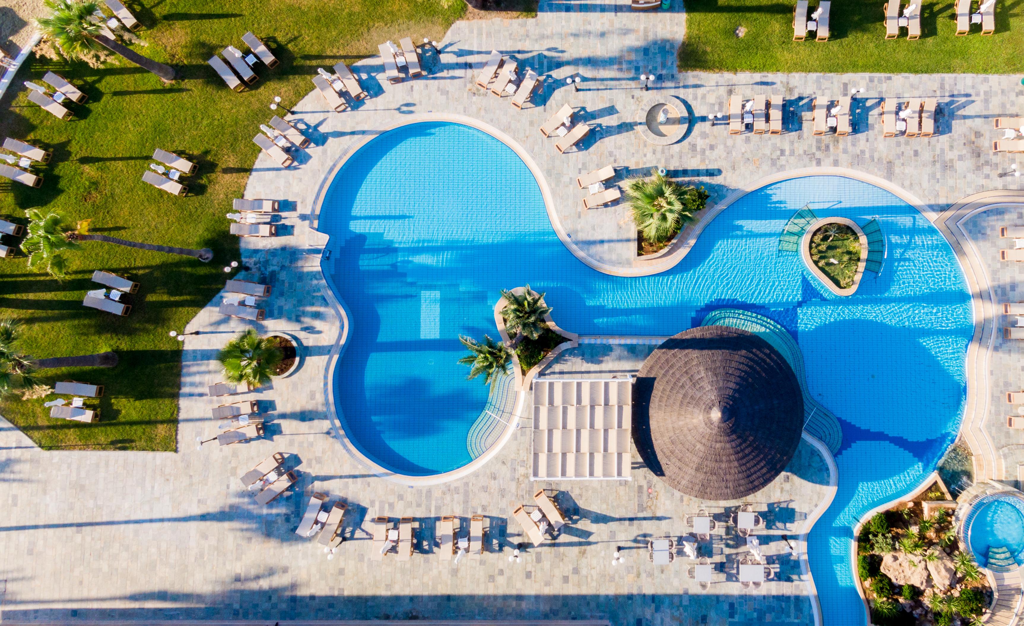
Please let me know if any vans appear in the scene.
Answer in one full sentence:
No, this view has no van in it.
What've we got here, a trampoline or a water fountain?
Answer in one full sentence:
Looking from above, you can make out a water fountain.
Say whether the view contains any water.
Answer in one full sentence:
Yes, water shows up in the scene.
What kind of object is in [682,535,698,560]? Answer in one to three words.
umbrella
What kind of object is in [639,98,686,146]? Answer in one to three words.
fountain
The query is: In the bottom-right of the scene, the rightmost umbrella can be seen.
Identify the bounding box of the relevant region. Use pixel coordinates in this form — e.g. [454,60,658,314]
[742,535,763,561]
